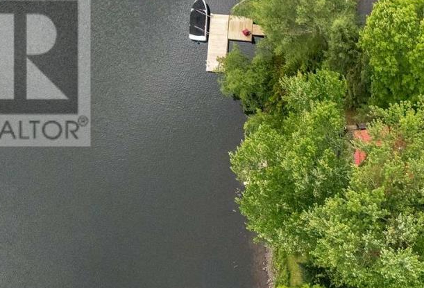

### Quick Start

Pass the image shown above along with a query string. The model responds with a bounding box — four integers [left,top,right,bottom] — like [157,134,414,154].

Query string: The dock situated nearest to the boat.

[207,13,230,71]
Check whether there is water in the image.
Yes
